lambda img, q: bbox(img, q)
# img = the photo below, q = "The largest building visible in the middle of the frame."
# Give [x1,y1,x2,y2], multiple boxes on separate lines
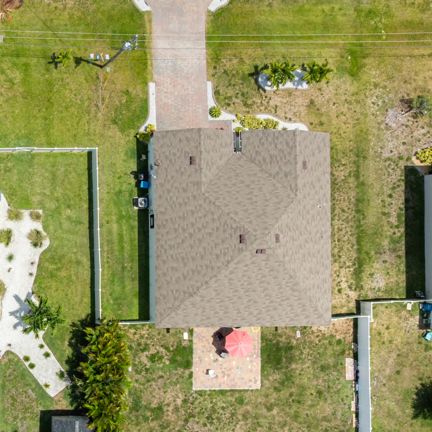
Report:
[150,129,331,328]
